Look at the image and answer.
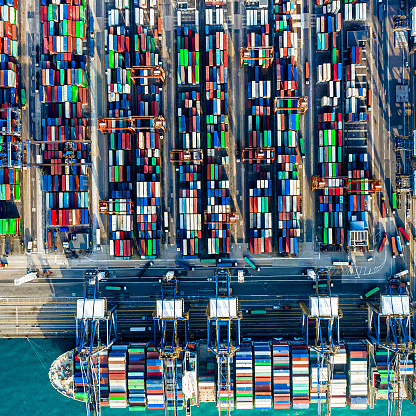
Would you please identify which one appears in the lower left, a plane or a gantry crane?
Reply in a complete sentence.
Visible in the lower left is a gantry crane.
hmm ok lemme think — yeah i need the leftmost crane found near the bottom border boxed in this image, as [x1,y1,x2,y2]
[74,274,124,416]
